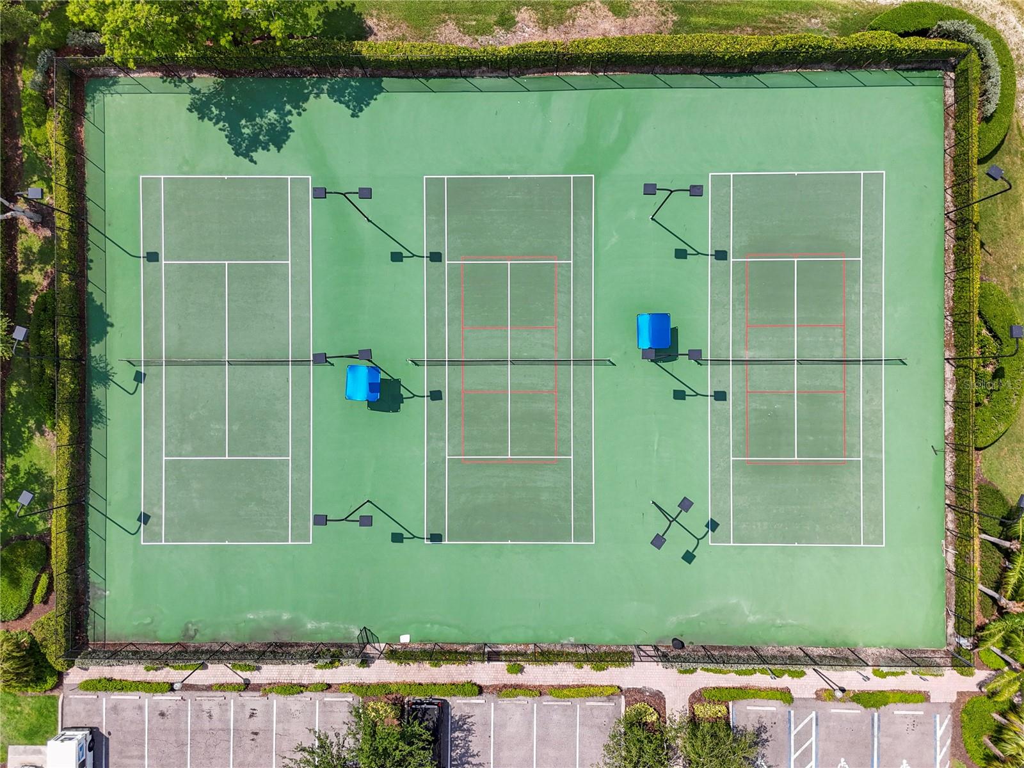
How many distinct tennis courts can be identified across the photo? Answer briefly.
3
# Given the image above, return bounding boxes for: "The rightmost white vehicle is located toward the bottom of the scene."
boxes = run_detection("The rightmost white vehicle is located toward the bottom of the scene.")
[49,724,97,768]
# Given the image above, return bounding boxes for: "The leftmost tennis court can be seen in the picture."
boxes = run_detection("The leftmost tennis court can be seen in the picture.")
[140,176,311,544]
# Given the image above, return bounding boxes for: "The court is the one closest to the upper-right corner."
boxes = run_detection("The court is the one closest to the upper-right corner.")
[709,171,885,546]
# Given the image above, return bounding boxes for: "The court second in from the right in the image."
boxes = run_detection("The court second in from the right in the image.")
[425,175,595,544]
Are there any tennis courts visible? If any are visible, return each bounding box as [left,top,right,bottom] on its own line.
[140,176,311,544]
[425,175,595,544]
[709,171,885,546]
